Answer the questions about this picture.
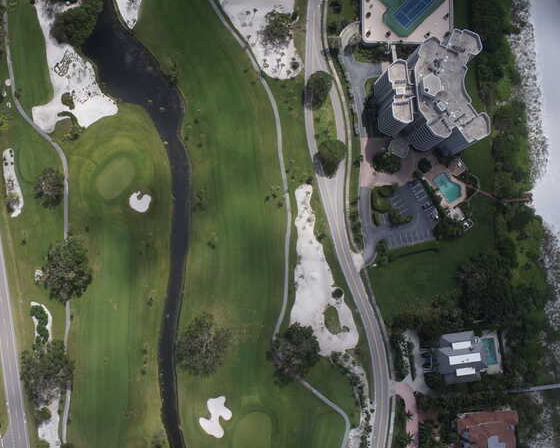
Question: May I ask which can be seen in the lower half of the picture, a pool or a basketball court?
pool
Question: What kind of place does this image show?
golf course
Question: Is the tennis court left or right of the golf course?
to its right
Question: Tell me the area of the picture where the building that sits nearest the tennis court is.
top right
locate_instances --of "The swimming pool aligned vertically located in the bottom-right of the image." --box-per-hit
[479,330,502,374]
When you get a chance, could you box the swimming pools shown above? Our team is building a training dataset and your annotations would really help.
[424,169,465,207]
[479,330,502,374]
